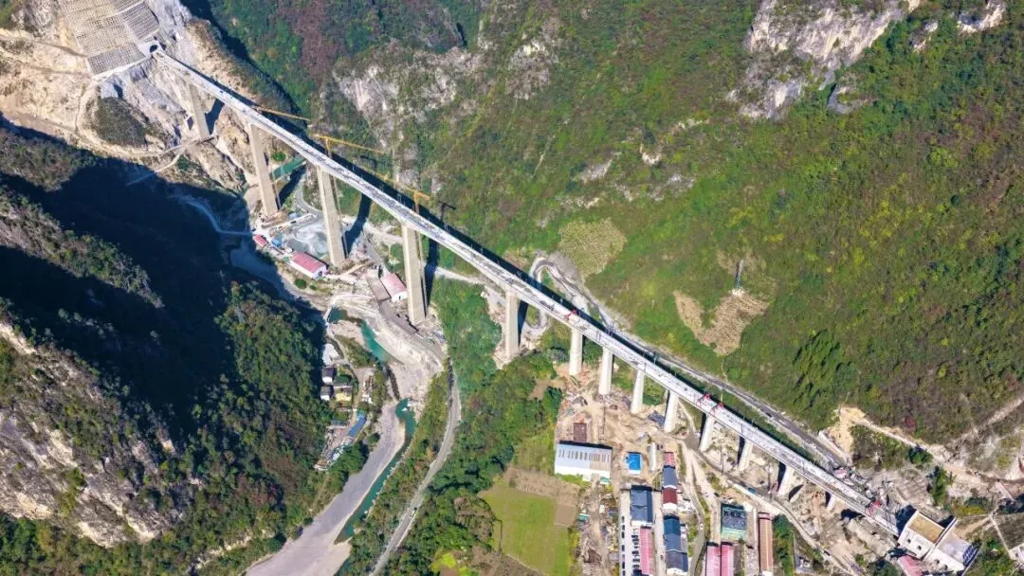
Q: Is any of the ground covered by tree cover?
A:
Yes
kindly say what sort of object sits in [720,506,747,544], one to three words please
building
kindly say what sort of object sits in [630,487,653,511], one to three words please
building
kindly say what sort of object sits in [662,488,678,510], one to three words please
house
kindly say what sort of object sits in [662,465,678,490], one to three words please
house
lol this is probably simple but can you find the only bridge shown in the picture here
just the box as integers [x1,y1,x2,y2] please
[152,52,939,567]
